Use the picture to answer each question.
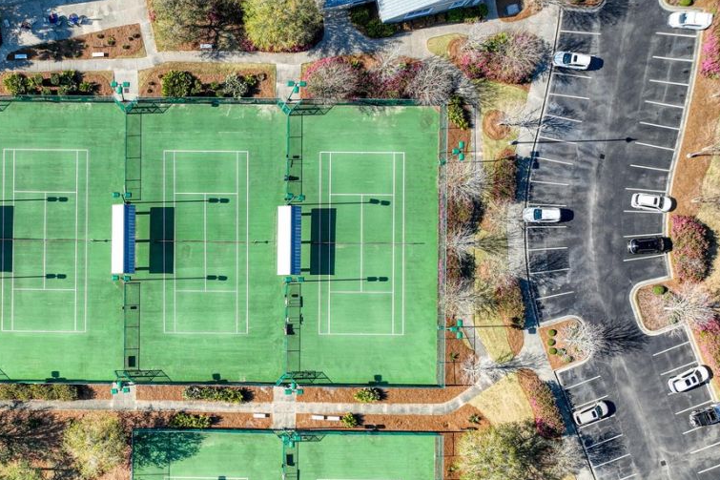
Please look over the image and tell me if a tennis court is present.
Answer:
Yes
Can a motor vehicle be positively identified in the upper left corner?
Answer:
No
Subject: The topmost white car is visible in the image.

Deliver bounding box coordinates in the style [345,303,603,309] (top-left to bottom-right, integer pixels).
[665,9,712,30]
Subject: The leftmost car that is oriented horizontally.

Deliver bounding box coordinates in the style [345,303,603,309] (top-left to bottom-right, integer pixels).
[522,206,561,224]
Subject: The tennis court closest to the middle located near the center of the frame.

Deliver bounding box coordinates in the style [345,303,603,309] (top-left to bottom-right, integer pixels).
[285,104,438,384]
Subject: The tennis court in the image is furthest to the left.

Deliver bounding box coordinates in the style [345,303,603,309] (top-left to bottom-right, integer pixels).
[0,102,125,382]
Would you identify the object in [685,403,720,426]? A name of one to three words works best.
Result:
car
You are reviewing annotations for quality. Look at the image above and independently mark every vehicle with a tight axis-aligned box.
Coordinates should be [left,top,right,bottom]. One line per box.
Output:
[569,399,608,425]
[665,366,708,393]
[628,194,670,211]
[625,235,664,253]
[551,49,591,70]
[685,403,720,426]
[665,9,712,30]
[522,206,561,224]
